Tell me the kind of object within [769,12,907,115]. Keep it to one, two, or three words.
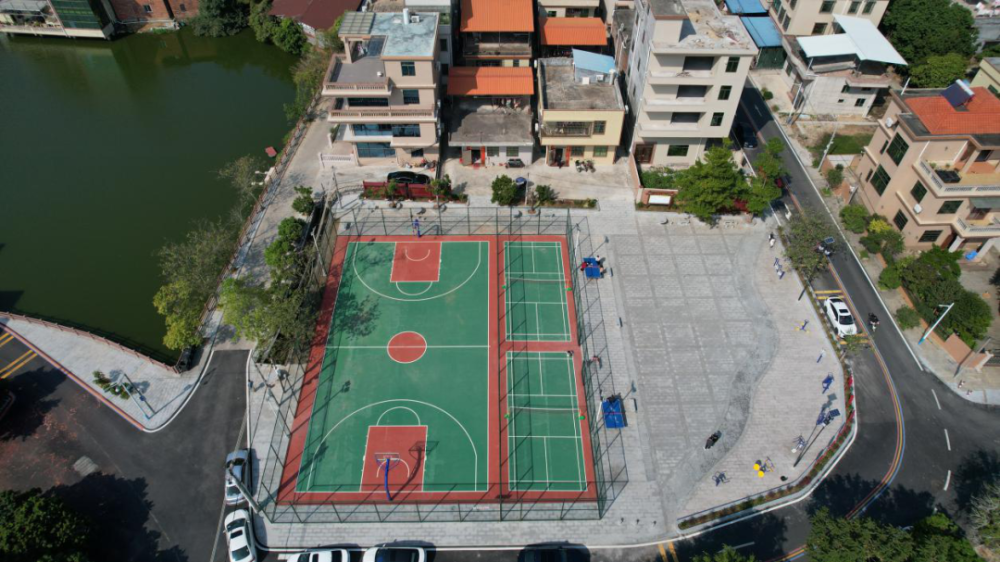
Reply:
house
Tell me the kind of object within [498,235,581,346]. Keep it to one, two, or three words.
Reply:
sports court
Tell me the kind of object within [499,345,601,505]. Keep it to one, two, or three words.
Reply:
sports court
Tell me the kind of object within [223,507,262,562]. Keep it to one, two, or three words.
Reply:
car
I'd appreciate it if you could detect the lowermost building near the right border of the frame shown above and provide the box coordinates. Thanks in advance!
[848,76,1000,263]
